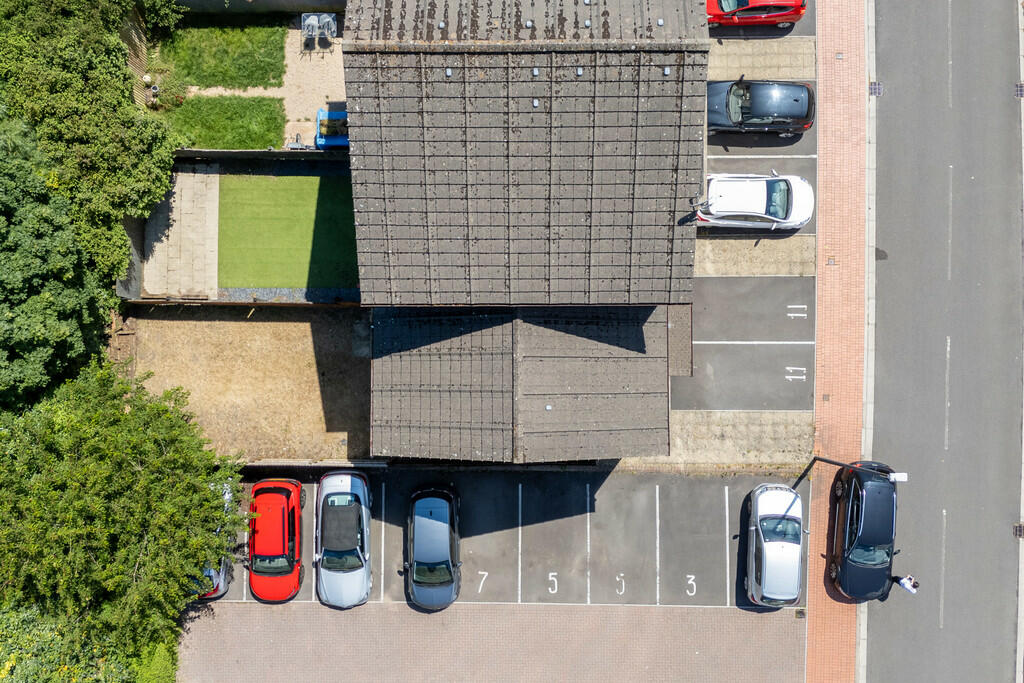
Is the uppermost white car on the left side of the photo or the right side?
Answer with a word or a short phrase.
right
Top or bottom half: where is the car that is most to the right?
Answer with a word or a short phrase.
bottom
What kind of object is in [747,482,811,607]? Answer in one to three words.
car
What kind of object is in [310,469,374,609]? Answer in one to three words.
car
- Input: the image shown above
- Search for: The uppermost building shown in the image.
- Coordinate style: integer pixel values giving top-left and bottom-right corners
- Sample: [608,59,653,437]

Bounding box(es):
[344,0,713,304]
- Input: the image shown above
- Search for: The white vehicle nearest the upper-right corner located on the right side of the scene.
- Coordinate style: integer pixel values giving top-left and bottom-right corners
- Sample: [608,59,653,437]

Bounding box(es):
[699,169,814,232]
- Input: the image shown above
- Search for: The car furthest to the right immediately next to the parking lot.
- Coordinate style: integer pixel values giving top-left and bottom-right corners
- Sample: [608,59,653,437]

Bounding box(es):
[831,459,903,601]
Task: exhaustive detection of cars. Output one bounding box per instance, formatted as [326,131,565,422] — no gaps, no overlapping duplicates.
[244,477,306,603]
[699,169,814,232]
[403,485,466,612]
[831,459,903,601]
[708,0,808,27]
[747,482,811,607]
[706,71,816,135]
[310,469,374,609]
